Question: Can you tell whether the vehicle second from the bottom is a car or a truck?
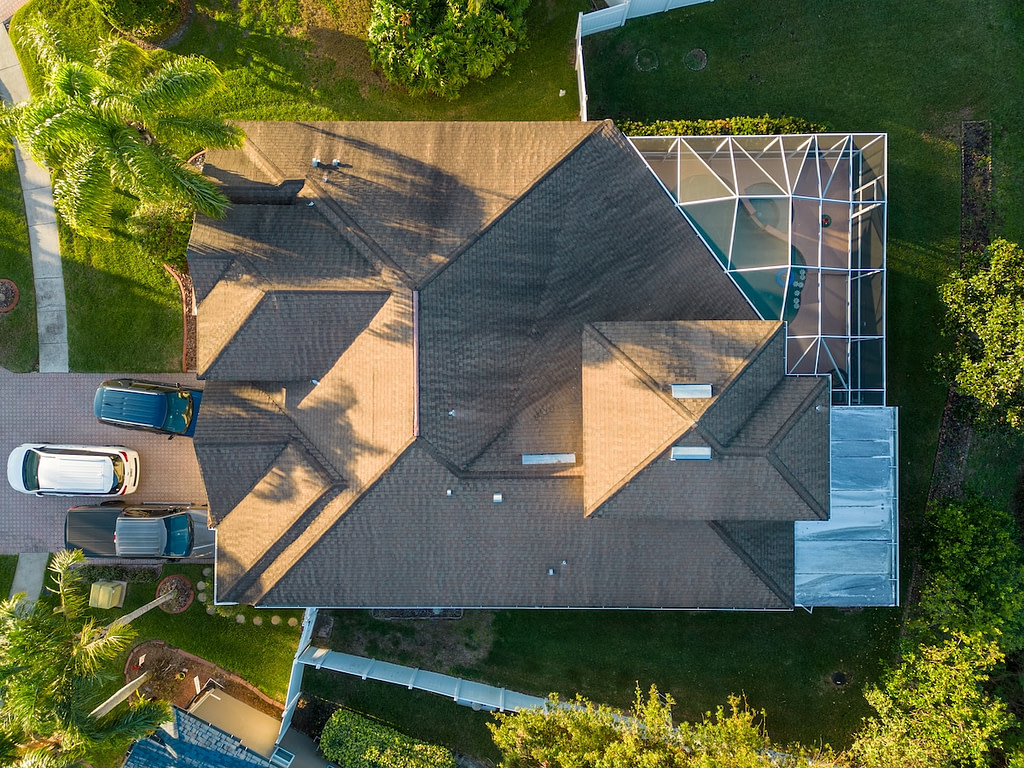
car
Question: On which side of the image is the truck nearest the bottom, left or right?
left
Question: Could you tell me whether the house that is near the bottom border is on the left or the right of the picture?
left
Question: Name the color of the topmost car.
blue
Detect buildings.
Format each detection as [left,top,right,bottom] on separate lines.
[180,120,834,610]
[135,672,346,768]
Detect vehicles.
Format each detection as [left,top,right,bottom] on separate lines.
[7,441,138,499]
[96,378,204,438]
[65,499,211,569]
